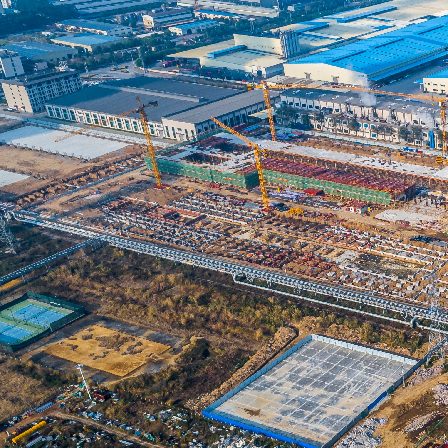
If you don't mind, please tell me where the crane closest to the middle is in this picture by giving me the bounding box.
[210,115,273,212]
